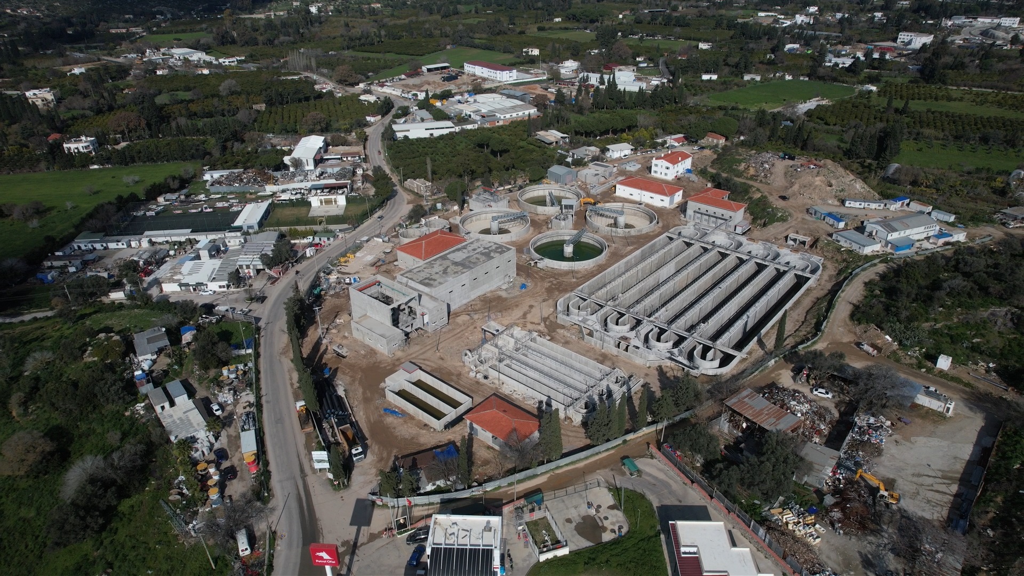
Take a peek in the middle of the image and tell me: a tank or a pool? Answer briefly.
tank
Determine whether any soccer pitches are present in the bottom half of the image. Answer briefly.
No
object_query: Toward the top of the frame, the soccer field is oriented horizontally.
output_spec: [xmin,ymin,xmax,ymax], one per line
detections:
[107,206,245,235]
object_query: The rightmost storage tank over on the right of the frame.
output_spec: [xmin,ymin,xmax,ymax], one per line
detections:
[584,202,658,243]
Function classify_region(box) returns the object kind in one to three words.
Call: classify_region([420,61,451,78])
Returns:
barn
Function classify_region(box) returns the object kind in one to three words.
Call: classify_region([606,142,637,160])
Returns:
house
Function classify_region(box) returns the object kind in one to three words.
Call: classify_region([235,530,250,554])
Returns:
vehicle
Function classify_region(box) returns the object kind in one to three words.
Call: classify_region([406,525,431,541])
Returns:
car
